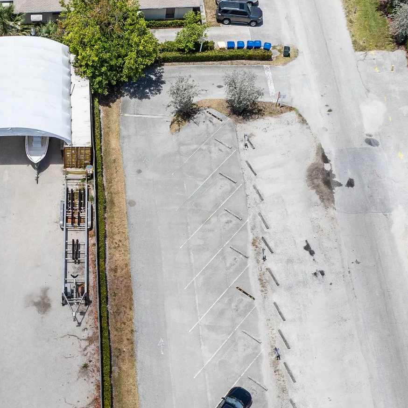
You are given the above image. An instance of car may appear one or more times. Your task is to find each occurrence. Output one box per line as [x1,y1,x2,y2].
[217,2,262,30]
[219,386,255,408]
[214,0,258,9]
